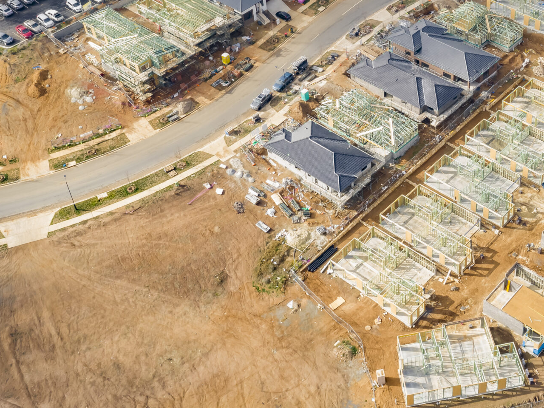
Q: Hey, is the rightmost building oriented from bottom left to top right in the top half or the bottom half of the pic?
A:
bottom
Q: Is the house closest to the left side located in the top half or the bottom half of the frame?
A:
top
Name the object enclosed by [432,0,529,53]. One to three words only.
house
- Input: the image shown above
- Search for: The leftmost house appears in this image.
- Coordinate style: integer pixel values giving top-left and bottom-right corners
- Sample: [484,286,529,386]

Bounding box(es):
[80,7,175,94]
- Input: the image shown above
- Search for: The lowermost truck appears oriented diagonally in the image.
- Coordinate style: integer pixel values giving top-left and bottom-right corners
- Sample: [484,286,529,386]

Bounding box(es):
[248,87,275,108]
